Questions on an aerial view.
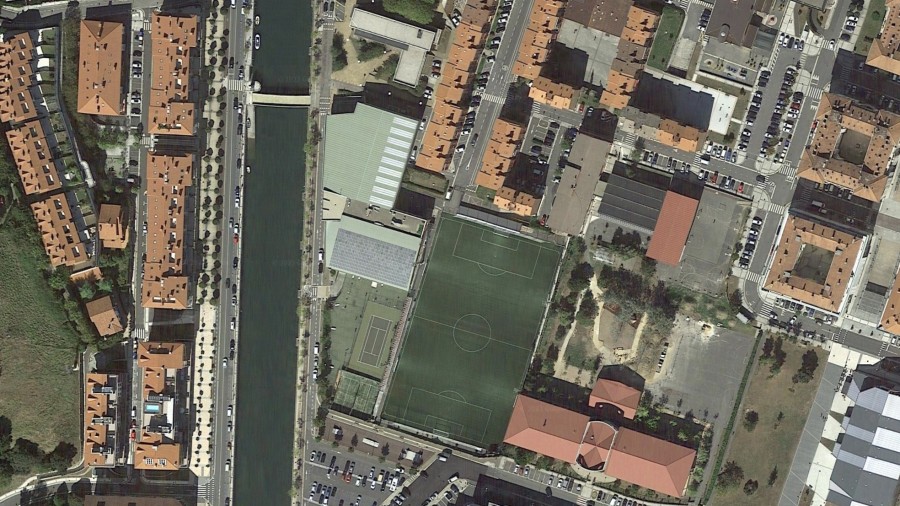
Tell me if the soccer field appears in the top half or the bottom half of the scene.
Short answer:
bottom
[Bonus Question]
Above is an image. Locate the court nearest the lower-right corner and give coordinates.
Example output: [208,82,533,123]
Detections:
[669,311,751,398]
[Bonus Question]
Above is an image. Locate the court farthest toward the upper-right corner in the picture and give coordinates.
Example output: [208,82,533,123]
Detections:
[687,191,737,264]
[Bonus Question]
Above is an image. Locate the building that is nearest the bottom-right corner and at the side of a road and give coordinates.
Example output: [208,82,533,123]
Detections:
[825,351,900,506]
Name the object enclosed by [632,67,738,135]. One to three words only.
building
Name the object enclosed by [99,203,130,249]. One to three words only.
house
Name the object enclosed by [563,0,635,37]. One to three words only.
building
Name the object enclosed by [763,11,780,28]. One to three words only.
fountain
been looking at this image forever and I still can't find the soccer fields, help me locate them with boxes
[381,213,562,452]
